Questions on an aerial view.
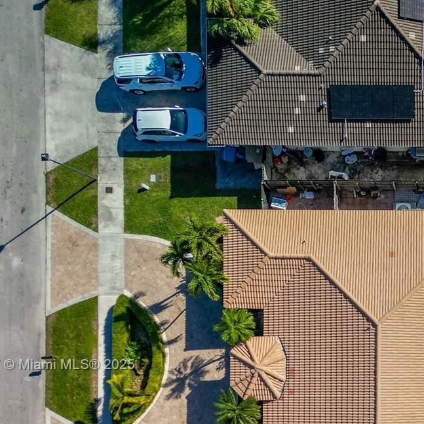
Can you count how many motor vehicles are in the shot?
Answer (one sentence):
The photo contains 2 motor vehicles.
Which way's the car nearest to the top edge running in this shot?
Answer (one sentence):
Seen from above, the car nearest to the top edge lies horizontally.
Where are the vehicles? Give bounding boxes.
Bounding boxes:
[131,104,206,146]
[116,53,206,98]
